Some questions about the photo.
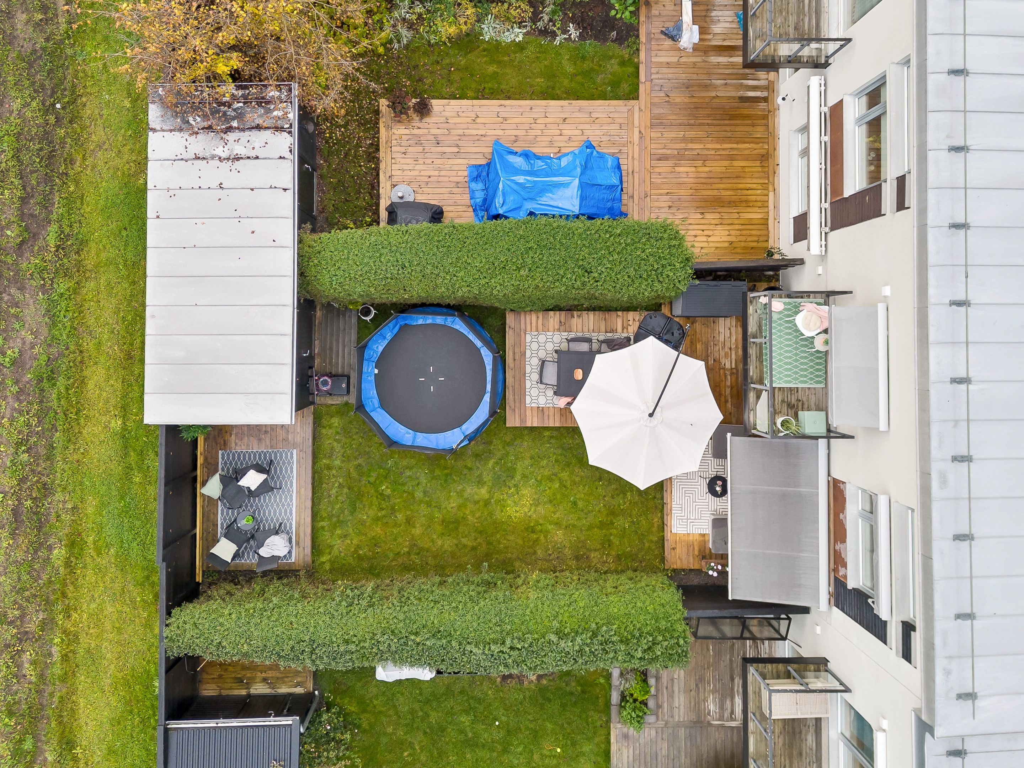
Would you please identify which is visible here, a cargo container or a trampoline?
trampoline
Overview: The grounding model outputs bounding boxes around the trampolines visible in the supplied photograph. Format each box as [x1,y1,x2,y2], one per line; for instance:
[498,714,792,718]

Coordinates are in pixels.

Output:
[349,305,504,461]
